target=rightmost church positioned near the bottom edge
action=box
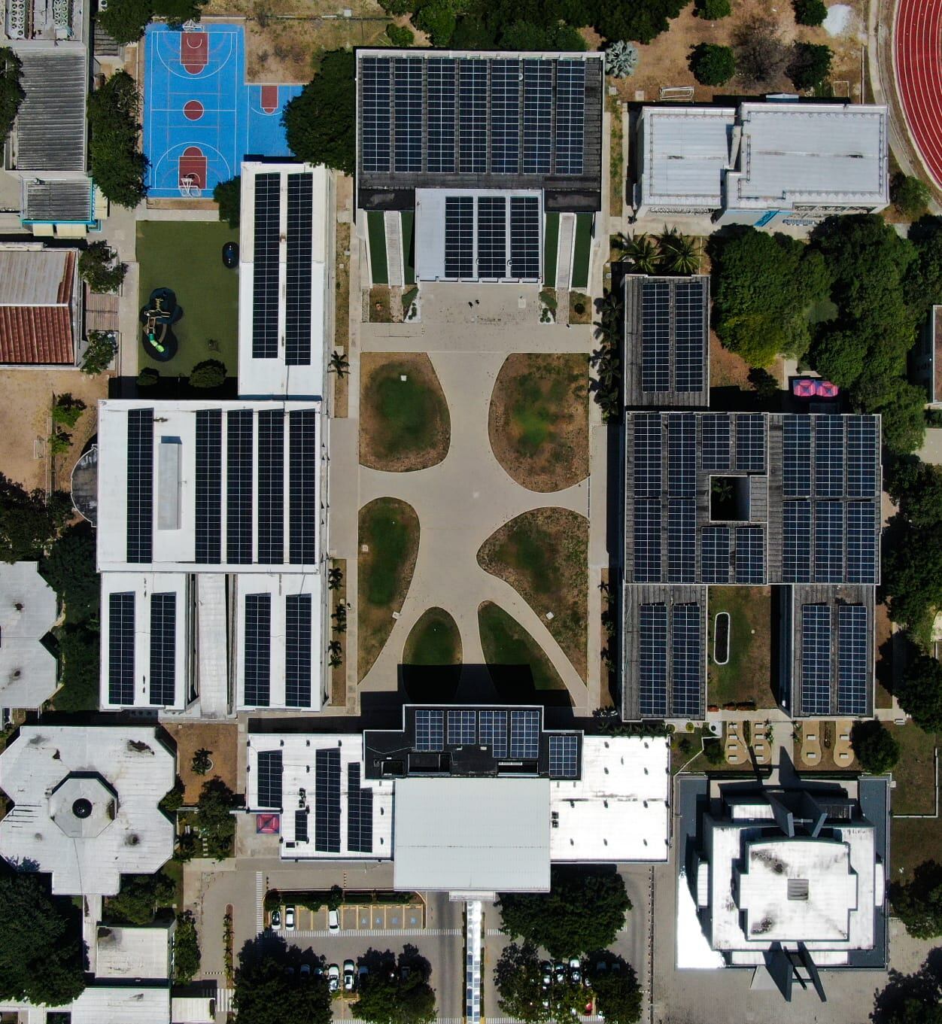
[693,778,885,1002]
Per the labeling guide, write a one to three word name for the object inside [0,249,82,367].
house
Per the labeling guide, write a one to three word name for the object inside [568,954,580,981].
vehicle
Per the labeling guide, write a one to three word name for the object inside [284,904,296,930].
vehicle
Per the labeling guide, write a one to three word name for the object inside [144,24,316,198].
sports court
